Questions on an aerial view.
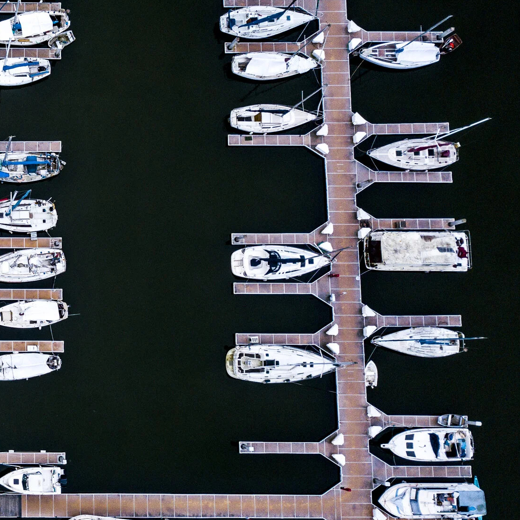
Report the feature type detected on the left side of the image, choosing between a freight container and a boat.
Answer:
boat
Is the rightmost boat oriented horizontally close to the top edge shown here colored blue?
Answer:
No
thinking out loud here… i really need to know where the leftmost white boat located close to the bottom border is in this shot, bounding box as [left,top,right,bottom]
[0,467,79,495]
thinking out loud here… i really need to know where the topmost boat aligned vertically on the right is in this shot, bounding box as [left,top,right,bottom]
[367,352,380,389]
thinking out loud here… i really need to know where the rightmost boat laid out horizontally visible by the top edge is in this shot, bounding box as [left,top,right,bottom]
[351,14,457,68]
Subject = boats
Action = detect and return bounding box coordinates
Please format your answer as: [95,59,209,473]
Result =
[49,30,75,47]
[228,244,357,281]
[0,343,62,382]
[216,0,320,43]
[367,352,380,389]
[0,0,71,45]
[0,37,52,85]
[362,229,480,272]
[0,136,66,183]
[378,427,474,461]
[351,14,457,68]
[0,189,59,237]
[0,467,79,495]
[361,117,494,170]
[225,83,329,135]
[373,477,485,520]
[227,23,334,78]
[439,414,468,428]
[441,33,461,53]
[223,344,361,384]
[368,327,484,355]
[0,292,77,341]
[0,239,67,282]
